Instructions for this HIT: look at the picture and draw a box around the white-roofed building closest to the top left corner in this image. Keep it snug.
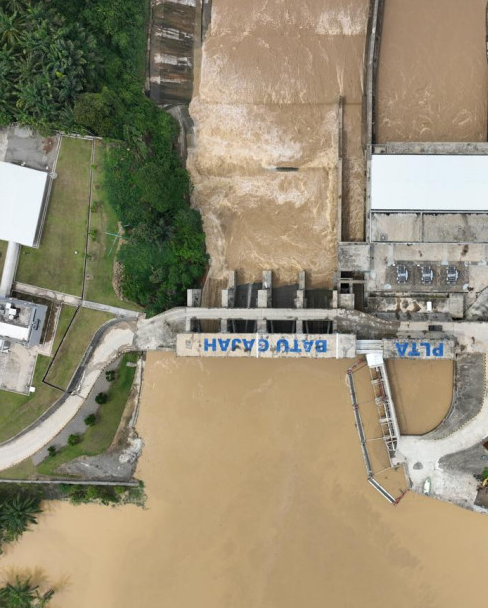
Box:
[0,163,54,246]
